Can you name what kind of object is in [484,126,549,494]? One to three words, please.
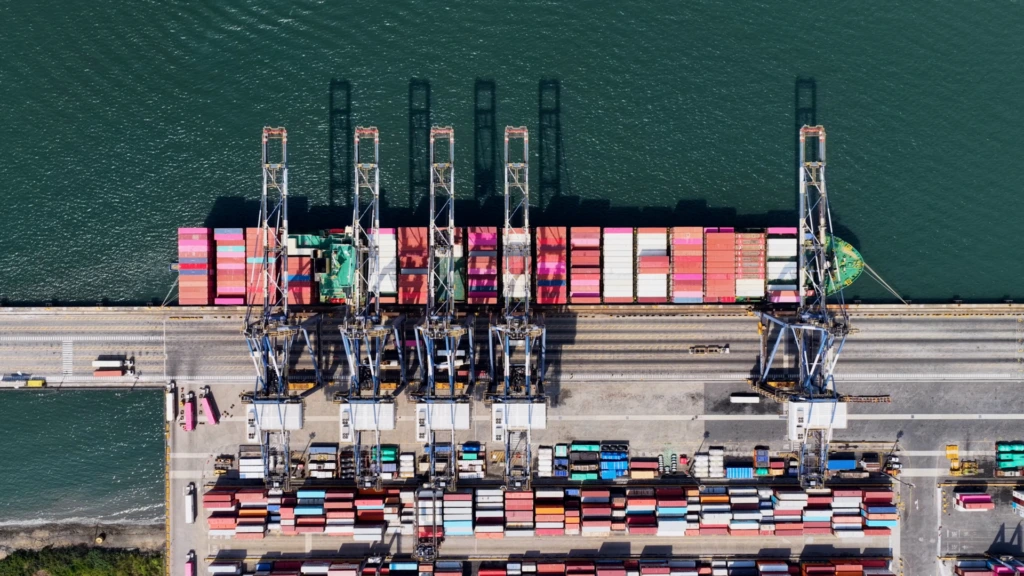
container crane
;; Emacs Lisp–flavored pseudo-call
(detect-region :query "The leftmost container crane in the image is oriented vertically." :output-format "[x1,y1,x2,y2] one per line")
[239,126,339,494]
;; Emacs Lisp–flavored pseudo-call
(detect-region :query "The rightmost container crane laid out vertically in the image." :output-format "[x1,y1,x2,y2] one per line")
[741,125,854,493]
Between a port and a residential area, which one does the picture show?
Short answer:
port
